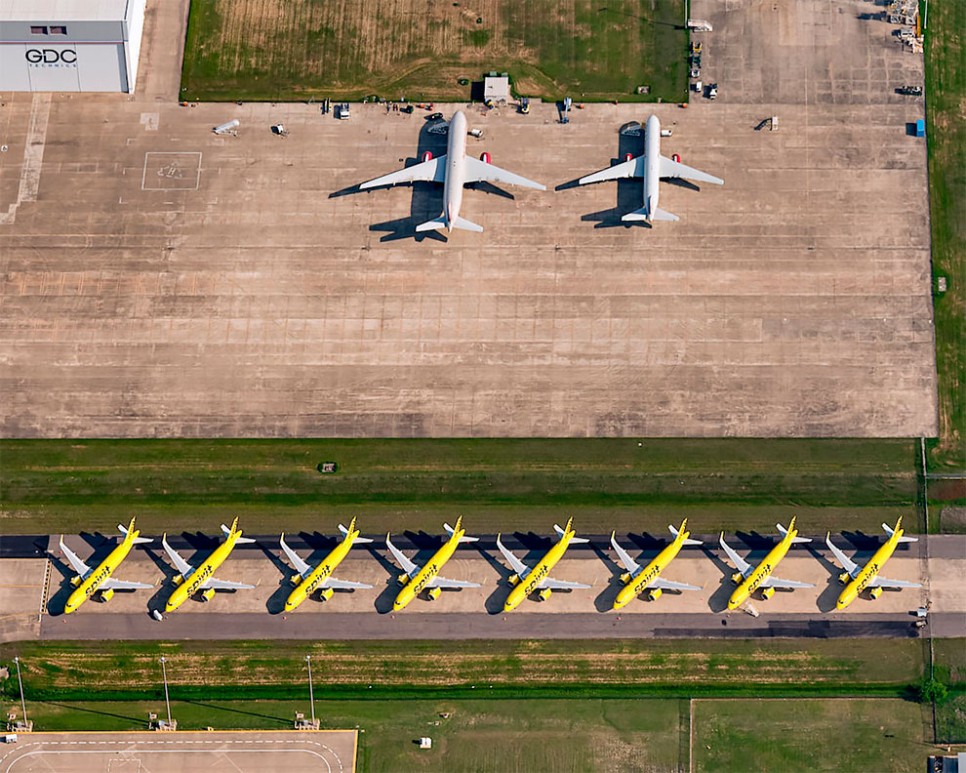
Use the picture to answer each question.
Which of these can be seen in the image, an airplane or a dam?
airplane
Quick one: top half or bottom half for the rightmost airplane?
bottom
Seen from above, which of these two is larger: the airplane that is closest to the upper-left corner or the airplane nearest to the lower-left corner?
the airplane that is closest to the upper-left corner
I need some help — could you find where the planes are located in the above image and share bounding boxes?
[161,519,257,613]
[495,518,595,612]
[386,518,484,612]
[717,518,818,610]
[360,108,545,232]
[579,113,724,220]
[607,518,705,610]
[824,517,926,610]
[61,519,158,613]
[279,518,376,612]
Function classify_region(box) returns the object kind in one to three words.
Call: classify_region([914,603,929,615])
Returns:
vehicle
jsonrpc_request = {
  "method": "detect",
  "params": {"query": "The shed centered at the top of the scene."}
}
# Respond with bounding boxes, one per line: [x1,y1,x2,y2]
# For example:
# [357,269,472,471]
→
[484,78,513,107]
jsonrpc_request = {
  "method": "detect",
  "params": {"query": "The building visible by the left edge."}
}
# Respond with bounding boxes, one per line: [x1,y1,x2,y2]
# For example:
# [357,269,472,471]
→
[0,0,143,92]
